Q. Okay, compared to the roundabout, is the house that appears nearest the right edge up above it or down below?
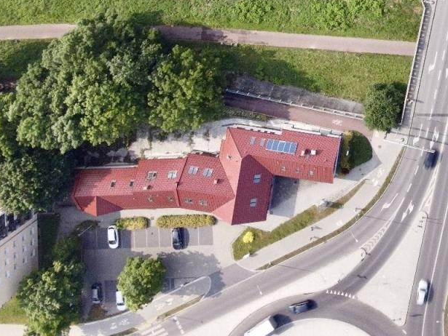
above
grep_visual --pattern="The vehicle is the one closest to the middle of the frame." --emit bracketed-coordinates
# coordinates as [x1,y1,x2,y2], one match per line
[173,226,185,250]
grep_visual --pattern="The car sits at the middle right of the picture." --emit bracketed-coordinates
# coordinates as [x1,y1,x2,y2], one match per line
[424,149,437,171]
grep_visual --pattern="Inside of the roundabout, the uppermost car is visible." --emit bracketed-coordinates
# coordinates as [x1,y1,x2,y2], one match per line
[287,299,313,314]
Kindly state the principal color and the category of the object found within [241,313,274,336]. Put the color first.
white vehicle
